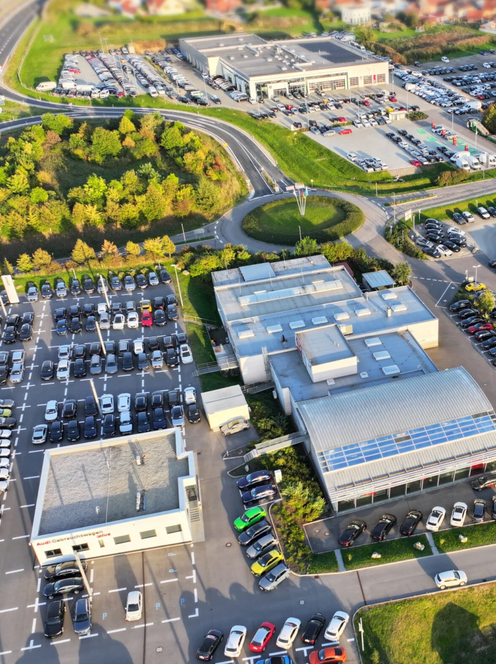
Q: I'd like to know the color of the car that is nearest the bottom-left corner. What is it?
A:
black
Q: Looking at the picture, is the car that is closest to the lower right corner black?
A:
No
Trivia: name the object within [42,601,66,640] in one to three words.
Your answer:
car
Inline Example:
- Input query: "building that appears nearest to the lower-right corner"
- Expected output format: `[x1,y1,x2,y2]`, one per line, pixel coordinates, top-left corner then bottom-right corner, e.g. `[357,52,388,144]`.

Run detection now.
[294,364,496,514]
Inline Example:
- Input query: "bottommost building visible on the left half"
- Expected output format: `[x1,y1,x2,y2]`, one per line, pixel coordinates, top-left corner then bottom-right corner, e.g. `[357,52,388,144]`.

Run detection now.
[31,428,201,568]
